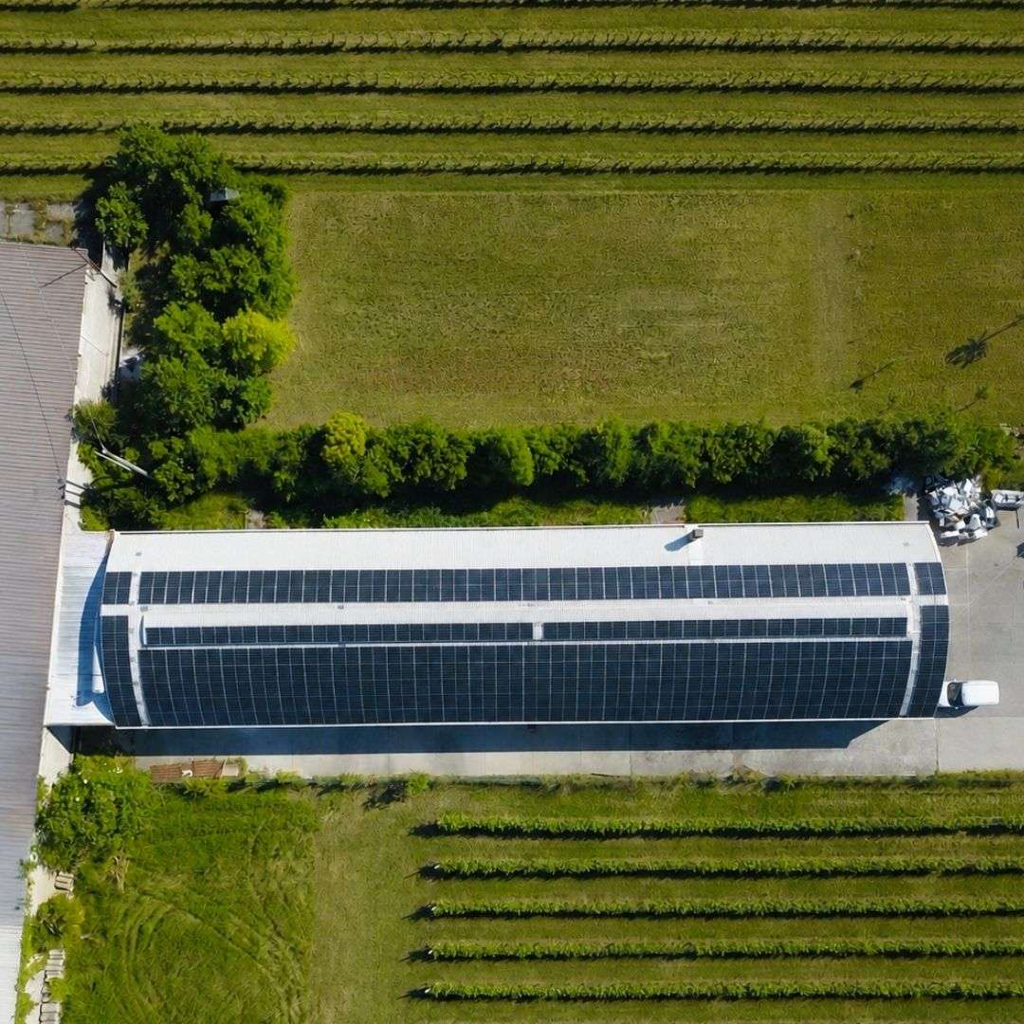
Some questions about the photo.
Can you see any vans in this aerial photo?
Yes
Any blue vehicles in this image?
No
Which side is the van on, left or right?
right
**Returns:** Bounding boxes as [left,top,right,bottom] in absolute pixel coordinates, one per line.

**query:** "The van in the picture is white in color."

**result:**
[938,675,997,711]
